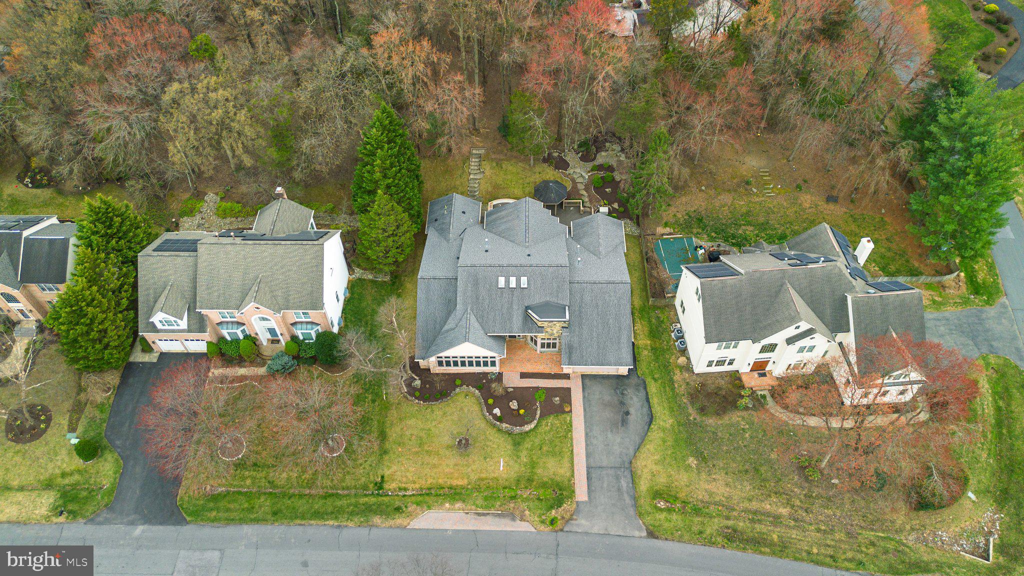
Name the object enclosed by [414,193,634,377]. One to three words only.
house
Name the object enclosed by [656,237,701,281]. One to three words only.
sports court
